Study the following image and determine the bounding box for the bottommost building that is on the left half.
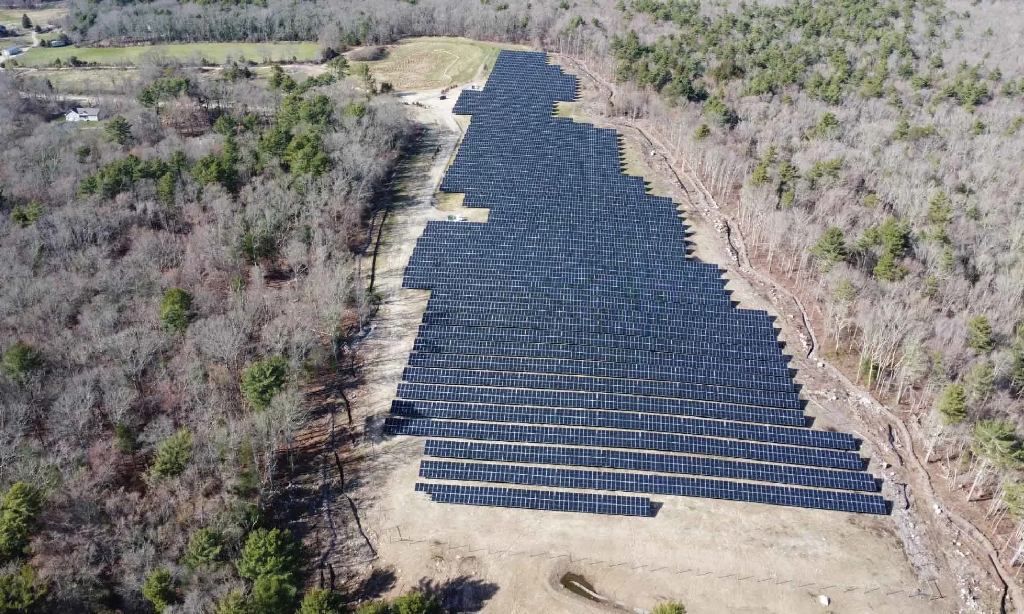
[62,106,103,123]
